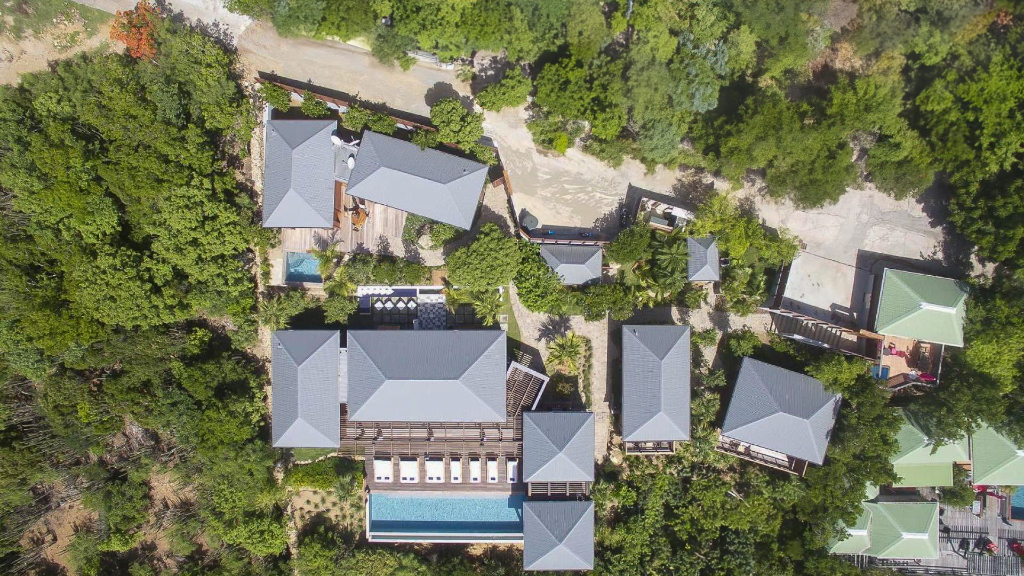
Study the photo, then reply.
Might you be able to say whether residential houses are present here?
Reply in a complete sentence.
Yes, a residential house appears in the view.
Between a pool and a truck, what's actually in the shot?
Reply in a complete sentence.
It is a pool that can be seen here.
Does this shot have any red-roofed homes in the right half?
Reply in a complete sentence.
No, I see no red-roofed home in the right half.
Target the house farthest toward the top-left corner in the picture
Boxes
[262,119,341,228]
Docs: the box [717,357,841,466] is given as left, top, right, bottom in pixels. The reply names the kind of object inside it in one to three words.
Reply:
house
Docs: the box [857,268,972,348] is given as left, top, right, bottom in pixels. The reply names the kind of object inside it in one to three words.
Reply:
building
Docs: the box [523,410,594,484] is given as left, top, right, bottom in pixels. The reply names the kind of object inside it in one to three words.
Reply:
house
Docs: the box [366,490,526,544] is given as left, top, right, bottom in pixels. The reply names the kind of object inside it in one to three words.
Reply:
swimming pool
